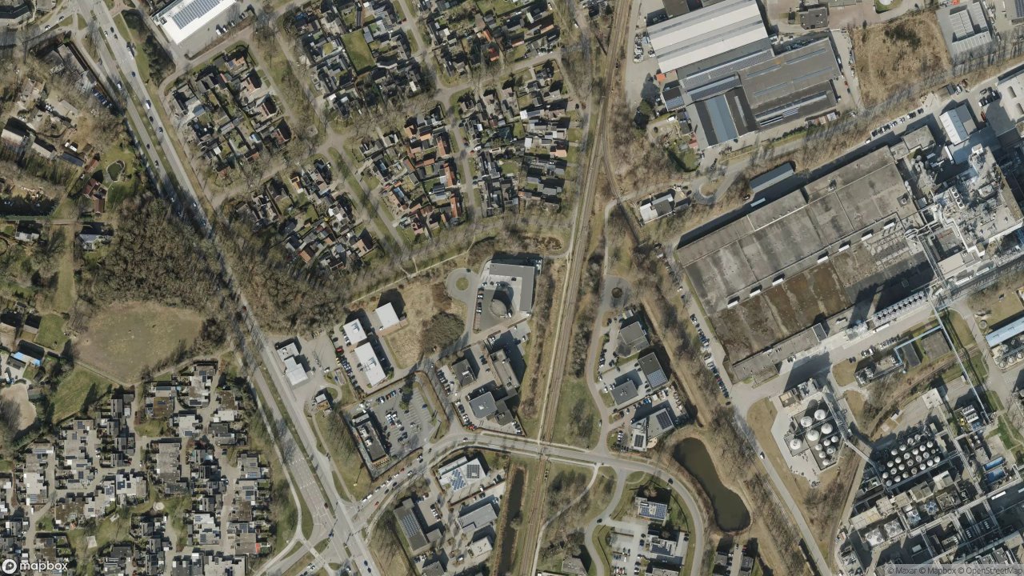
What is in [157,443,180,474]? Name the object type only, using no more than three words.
house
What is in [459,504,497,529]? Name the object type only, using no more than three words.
building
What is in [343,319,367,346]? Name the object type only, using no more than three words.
building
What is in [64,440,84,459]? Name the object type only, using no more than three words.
house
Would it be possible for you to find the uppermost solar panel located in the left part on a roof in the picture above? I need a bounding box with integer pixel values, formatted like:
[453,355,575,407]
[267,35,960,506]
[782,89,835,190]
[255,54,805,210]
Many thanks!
[173,0,222,29]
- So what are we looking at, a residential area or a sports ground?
residential area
